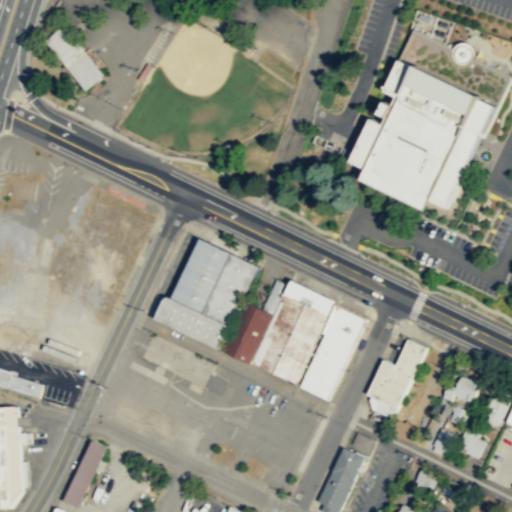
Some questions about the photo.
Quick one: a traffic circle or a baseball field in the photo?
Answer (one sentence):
It is a baseball field that can be seen here.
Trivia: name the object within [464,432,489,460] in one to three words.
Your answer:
house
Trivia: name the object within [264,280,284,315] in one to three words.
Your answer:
shed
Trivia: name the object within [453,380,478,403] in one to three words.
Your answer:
house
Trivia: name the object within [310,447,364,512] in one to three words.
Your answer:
building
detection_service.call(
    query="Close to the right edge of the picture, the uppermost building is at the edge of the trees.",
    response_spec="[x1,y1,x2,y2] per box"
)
[347,10,512,210]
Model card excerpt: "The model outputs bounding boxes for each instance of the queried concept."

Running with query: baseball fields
[124,23,290,150]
